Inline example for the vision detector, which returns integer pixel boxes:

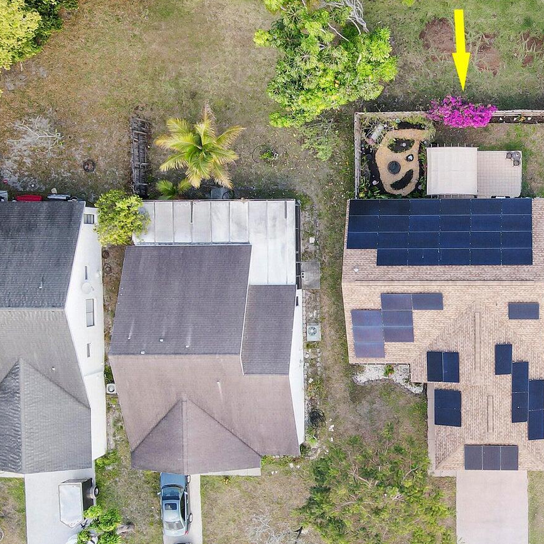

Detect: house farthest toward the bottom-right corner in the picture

[342,197,544,472]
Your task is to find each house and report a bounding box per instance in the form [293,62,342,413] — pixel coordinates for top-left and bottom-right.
[0,201,104,475]
[342,197,544,472]
[109,198,309,475]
